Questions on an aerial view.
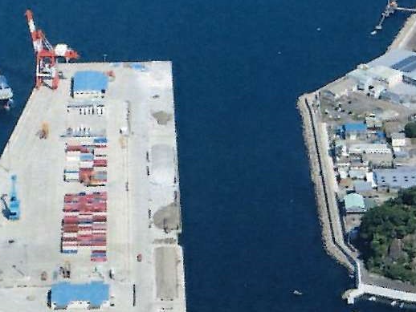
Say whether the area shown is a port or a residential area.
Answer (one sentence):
The area seen from above is a port.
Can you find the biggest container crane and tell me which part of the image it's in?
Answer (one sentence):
The biggest container crane is located in the top left region of the scene.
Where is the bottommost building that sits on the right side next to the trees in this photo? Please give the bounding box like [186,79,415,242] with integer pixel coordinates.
[345,190,366,214]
